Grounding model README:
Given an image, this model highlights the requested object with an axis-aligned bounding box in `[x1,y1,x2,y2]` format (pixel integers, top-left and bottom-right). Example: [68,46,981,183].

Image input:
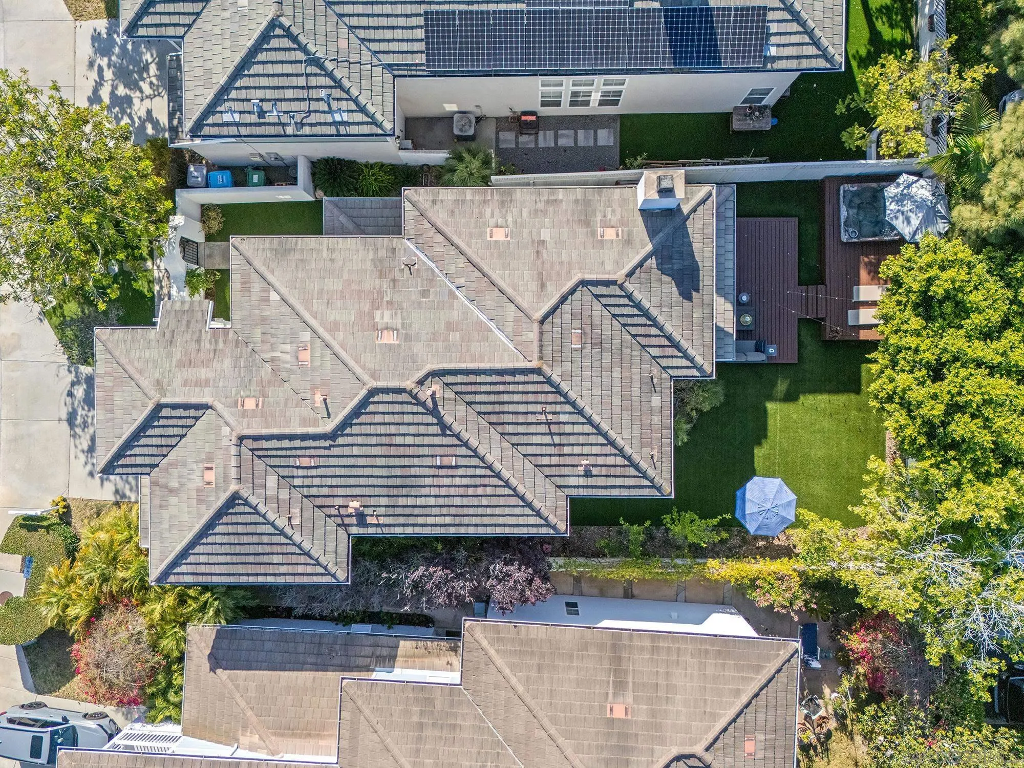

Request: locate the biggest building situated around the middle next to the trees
[95,171,736,584]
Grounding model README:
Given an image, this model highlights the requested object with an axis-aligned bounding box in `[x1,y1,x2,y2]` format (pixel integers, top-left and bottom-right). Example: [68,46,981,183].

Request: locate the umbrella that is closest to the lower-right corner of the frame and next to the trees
[734,476,794,535]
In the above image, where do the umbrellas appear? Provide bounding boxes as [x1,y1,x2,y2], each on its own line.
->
[881,170,956,245]
[734,476,794,535]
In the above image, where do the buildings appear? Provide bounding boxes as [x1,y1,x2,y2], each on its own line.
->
[95,171,736,584]
[49,599,799,768]
[119,0,844,164]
